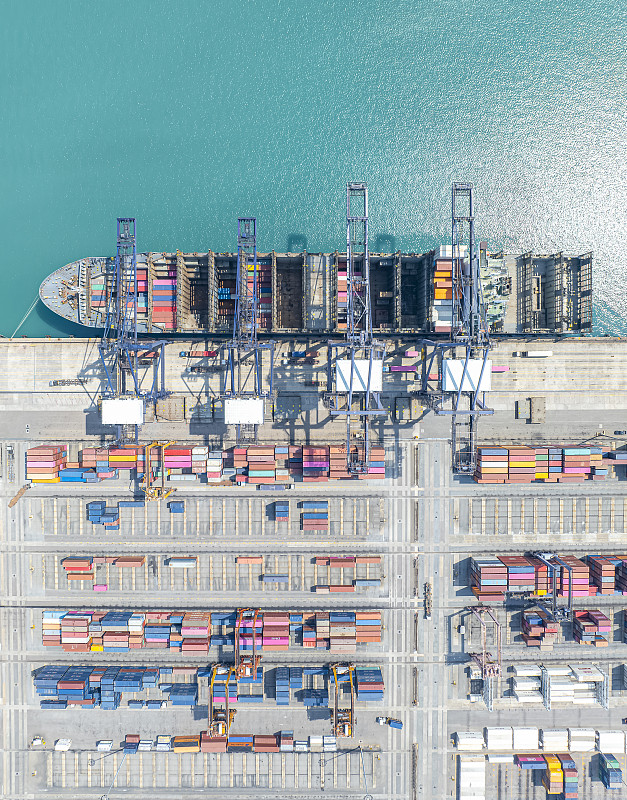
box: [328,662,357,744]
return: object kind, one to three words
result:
crane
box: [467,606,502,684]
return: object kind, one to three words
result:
crane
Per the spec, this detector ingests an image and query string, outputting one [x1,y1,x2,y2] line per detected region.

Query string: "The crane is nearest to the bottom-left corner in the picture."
[207,662,240,744]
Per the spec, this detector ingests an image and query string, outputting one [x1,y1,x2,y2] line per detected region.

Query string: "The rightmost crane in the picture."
[533,554,574,625]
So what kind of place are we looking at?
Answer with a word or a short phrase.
port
